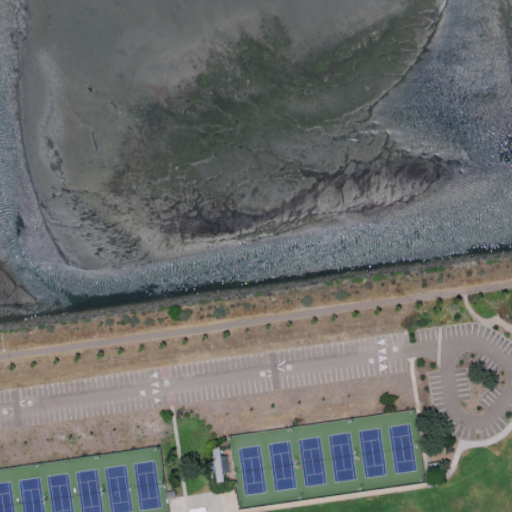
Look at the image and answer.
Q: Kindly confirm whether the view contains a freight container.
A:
No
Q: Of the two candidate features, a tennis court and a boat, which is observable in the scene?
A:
tennis court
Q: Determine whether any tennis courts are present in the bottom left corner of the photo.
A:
Yes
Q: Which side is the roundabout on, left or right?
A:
right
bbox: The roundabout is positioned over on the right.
[441,335,512,428]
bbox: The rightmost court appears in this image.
[389,424,417,474]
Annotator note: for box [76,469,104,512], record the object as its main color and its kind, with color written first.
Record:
blue tennis court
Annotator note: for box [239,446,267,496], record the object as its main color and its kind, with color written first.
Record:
blue tennis court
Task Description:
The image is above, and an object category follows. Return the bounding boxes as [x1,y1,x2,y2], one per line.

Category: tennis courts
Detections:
[18,478,45,512]
[134,461,162,511]
[389,424,417,474]
[359,428,387,478]
[299,437,327,487]
[76,469,104,512]
[105,465,133,512]
[329,432,357,482]
[0,482,16,512]
[48,474,74,512]
[269,441,297,491]
[239,446,267,496]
